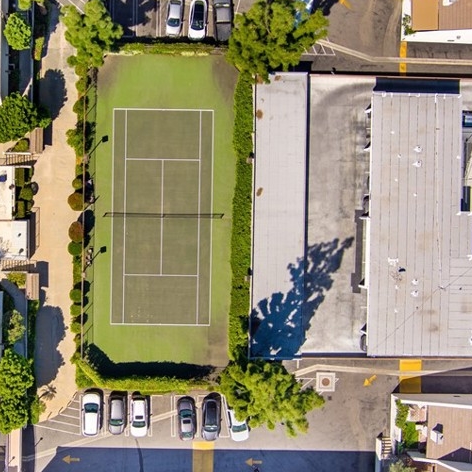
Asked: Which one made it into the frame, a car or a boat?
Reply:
car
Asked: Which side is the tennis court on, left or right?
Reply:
left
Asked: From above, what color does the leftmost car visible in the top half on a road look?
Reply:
white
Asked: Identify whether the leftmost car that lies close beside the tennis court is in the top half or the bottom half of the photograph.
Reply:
bottom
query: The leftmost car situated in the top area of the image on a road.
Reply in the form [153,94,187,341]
[165,0,185,38]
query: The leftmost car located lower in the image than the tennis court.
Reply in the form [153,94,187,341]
[81,391,102,435]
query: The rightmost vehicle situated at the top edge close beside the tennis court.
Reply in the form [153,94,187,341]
[211,0,233,42]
